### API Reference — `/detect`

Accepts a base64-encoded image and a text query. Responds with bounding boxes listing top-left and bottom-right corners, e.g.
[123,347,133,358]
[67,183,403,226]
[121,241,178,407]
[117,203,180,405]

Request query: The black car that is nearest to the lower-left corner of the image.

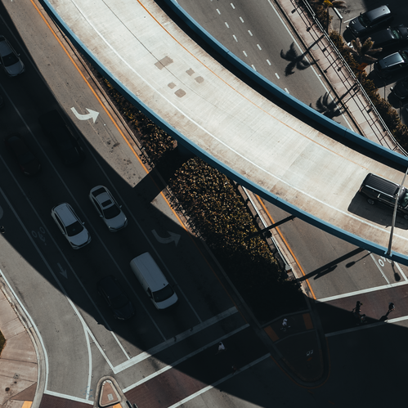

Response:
[94,273,139,322]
